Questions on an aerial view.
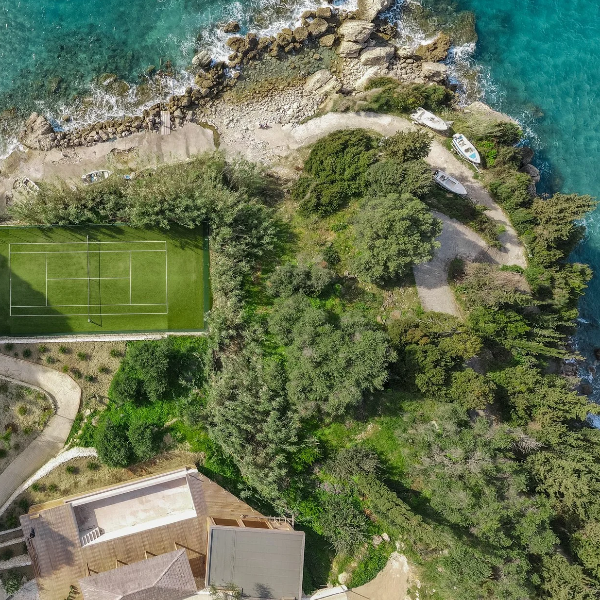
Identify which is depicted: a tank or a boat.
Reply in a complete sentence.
Of the two, only a boat appears.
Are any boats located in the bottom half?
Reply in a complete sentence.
No, looking in the bottom half, there is no boat.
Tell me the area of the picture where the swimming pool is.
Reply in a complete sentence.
You can find the swimming pool in the bottom left area of the picture.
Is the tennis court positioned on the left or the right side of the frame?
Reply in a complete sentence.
The tennis court is on the left side of the image.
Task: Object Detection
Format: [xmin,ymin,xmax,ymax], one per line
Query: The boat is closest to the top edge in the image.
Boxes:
[410,107,453,130]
